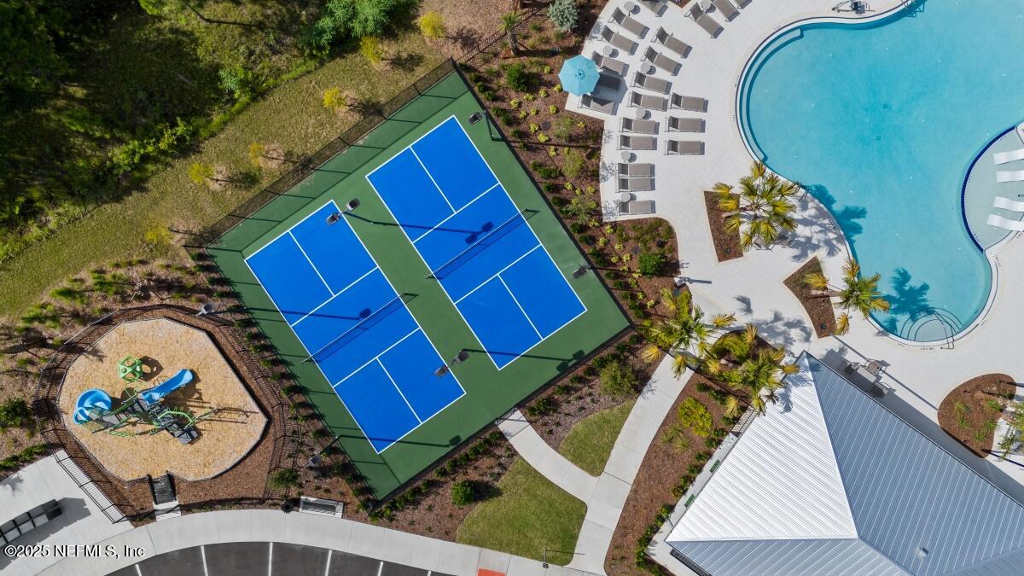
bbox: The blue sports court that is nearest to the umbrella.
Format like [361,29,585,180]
[365,115,587,370]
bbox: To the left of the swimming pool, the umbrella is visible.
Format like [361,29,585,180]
[558,55,600,98]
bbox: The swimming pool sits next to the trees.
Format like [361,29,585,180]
[733,0,1024,350]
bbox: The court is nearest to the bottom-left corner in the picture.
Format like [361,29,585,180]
[244,200,466,454]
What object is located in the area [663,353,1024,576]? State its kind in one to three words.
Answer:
building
